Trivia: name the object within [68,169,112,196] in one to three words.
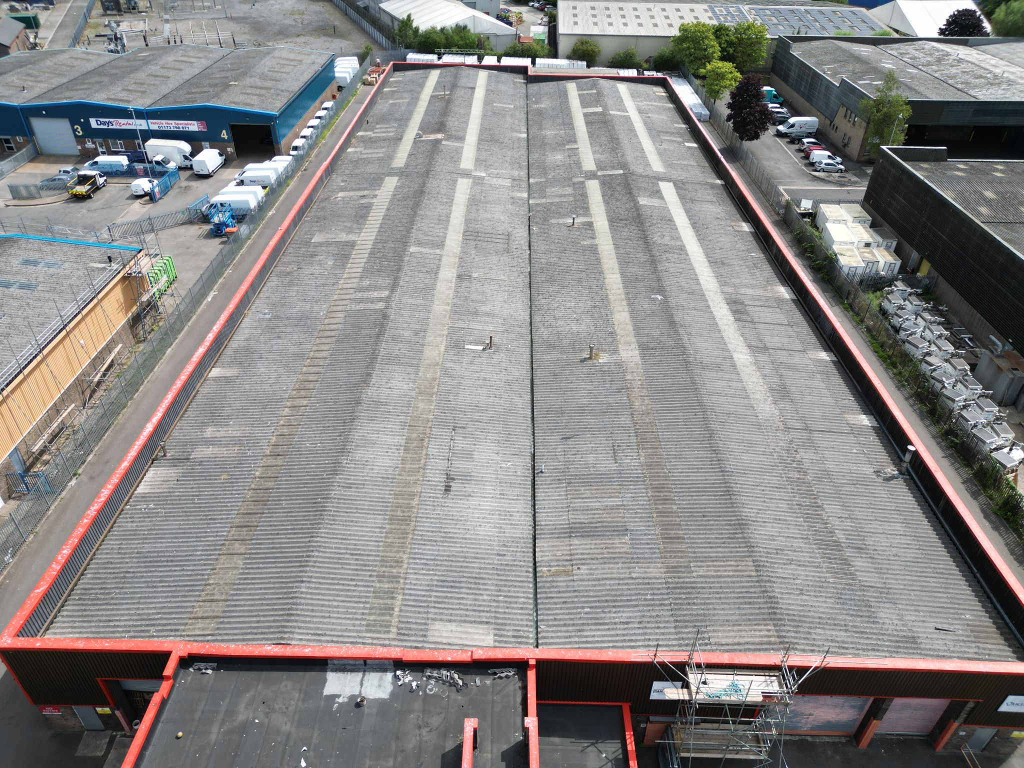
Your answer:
truck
